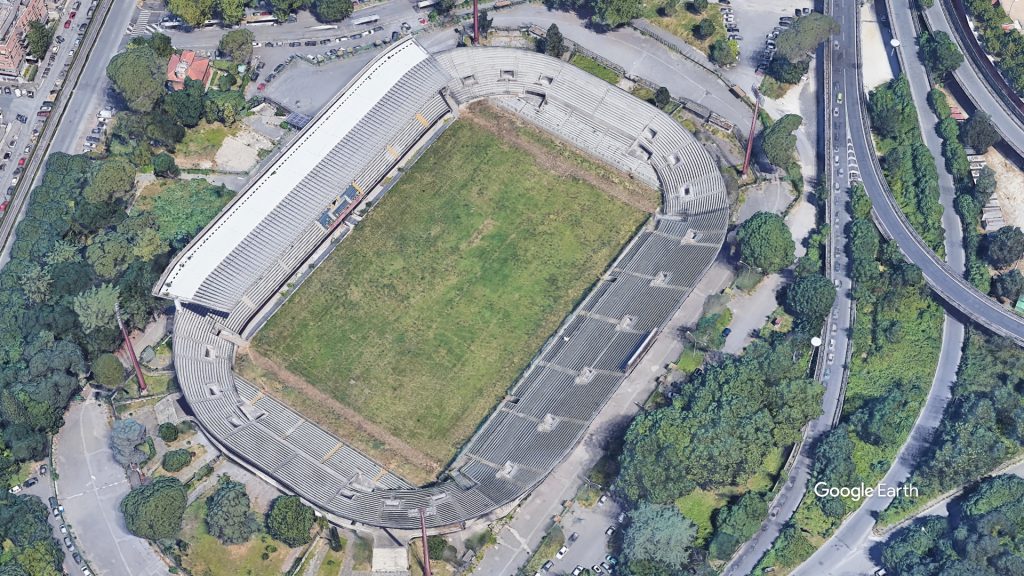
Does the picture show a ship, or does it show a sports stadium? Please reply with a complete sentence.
Visible in the photo is a sports stadium.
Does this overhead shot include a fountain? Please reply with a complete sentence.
No, there appears to be no fountain in this shot.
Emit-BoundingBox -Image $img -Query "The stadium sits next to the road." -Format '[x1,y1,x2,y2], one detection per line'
[152,38,731,533]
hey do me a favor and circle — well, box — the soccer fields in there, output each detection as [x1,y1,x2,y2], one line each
[227,98,664,483]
